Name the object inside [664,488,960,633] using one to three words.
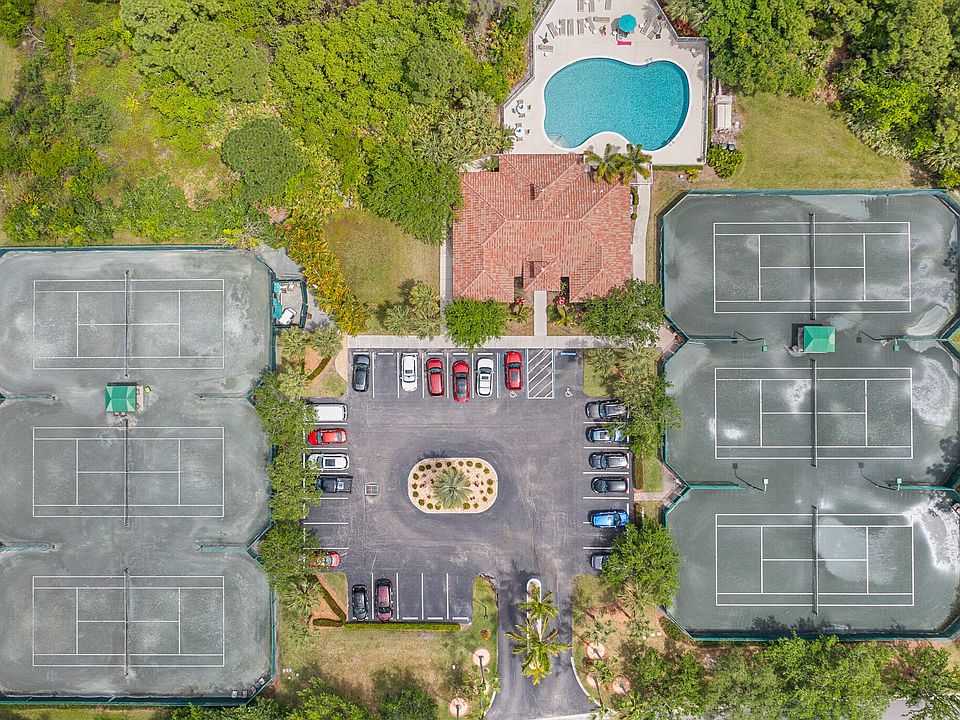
tennis court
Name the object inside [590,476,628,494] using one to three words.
car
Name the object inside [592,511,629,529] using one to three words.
car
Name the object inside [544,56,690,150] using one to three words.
swimming pool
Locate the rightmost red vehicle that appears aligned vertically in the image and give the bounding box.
[504,352,522,390]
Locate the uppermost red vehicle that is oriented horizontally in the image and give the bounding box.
[308,428,347,446]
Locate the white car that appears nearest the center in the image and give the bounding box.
[476,357,494,397]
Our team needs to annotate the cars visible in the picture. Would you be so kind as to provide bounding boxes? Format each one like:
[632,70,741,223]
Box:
[452,361,470,401]
[351,583,368,621]
[308,453,350,471]
[476,357,494,397]
[585,426,623,443]
[585,401,627,419]
[352,354,369,391]
[590,476,628,494]
[426,358,443,397]
[308,428,347,446]
[504,352,522,390]
[400,354,418,391]
[588,452,628,470]
[592,511,629,529]
[374,578,393,620]
[303,550,340,569]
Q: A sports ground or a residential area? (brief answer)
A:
sports ground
